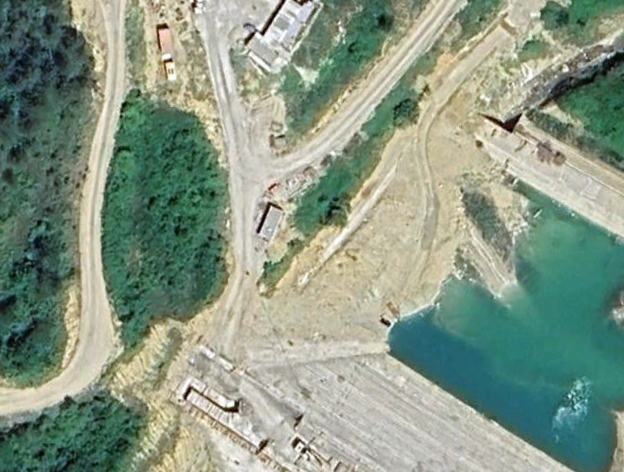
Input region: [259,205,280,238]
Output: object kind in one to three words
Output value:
shed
